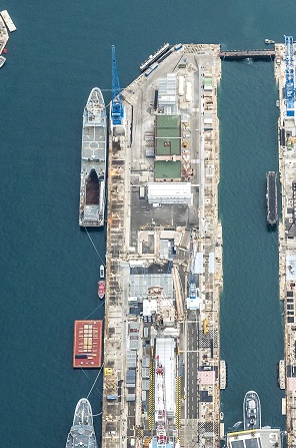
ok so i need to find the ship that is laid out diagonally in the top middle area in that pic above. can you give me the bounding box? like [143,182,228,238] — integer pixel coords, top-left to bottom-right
[141,45,169,71]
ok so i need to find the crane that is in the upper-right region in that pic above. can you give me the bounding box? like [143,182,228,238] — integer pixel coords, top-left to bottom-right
[284,39,296,119]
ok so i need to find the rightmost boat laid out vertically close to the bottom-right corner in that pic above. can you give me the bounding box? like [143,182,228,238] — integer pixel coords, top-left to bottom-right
[242,391,261,431]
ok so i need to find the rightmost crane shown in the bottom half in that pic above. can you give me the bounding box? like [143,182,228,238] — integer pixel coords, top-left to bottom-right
[184,232,201,317]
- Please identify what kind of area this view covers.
port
